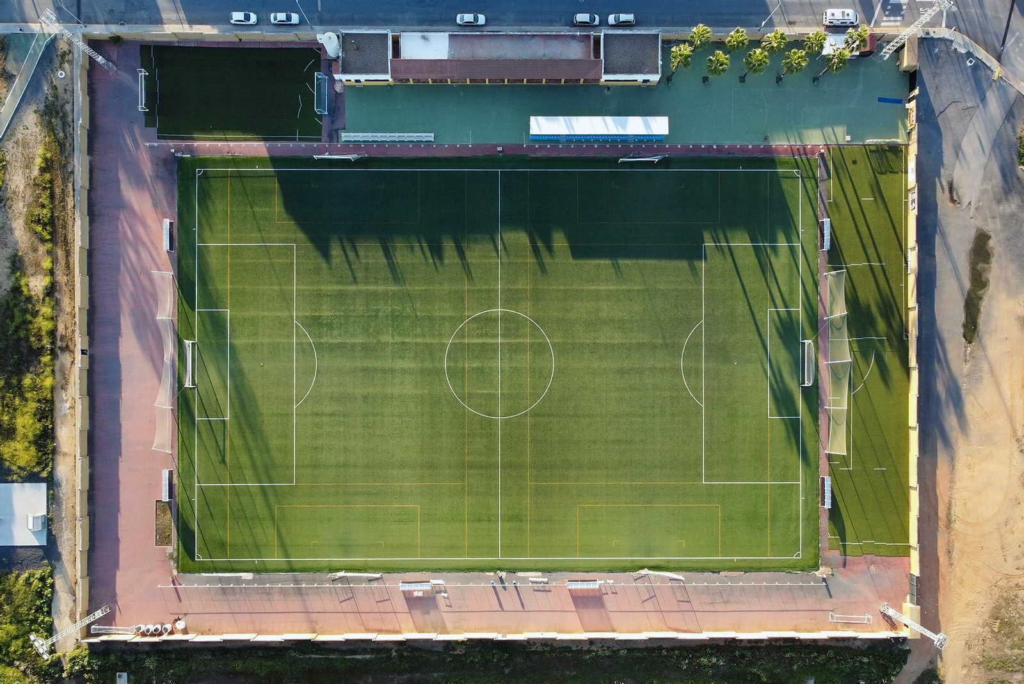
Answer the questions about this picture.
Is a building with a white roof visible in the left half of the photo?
Yes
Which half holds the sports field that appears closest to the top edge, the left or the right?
left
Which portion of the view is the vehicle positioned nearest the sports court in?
top right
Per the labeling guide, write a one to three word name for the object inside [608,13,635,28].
car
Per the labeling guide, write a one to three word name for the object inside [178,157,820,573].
soccer field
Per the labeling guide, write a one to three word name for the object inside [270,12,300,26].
car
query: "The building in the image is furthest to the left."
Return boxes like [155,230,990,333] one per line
[0,483,50,546]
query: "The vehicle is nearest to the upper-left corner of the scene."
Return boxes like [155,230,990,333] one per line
[231,12,258,26]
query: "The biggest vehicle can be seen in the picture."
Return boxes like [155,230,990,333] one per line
[821,8,858,28]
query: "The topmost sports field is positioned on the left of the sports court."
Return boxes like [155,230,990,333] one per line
[140,45,322,140]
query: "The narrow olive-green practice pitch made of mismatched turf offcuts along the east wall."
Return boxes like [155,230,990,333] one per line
[828,145,910,556]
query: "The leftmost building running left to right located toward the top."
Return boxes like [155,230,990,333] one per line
[339,30,662,89]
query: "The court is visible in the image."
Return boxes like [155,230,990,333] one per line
[339,40,909,145]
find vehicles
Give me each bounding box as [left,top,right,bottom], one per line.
[574,13,599,27]
[231,12,258,26]
[456,13,485,27]
[270,12,300,26]
[821,8,858,28]
[608,13,635,28]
